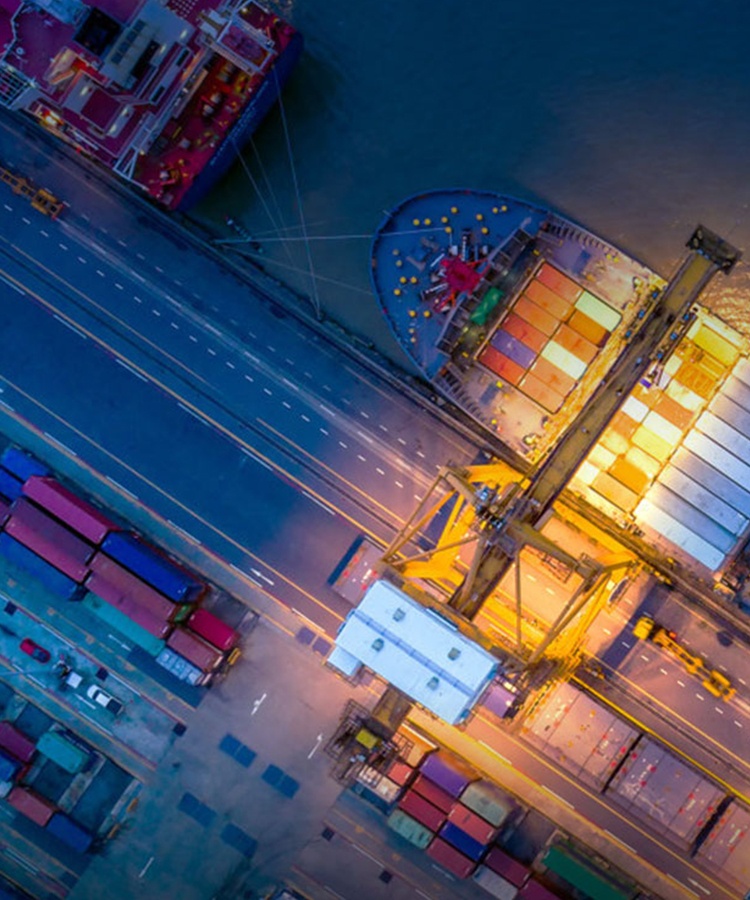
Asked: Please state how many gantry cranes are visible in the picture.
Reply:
1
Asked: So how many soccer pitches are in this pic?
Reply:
0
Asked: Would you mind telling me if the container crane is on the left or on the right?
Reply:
right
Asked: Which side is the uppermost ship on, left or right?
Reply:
left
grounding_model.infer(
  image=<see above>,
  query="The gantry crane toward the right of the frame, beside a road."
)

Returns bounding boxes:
[305,215,746,788]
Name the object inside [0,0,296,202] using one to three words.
ship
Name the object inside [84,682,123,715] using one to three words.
truck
